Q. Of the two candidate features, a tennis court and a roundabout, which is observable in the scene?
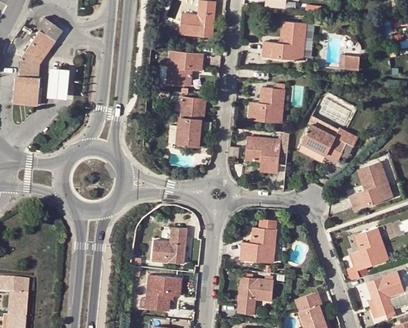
roundabout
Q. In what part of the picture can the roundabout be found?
left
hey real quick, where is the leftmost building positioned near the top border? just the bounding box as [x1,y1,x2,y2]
[12,16,63,106]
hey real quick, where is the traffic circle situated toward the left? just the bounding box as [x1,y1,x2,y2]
[66,138,122,221]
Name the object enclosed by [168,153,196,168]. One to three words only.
swimming pool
